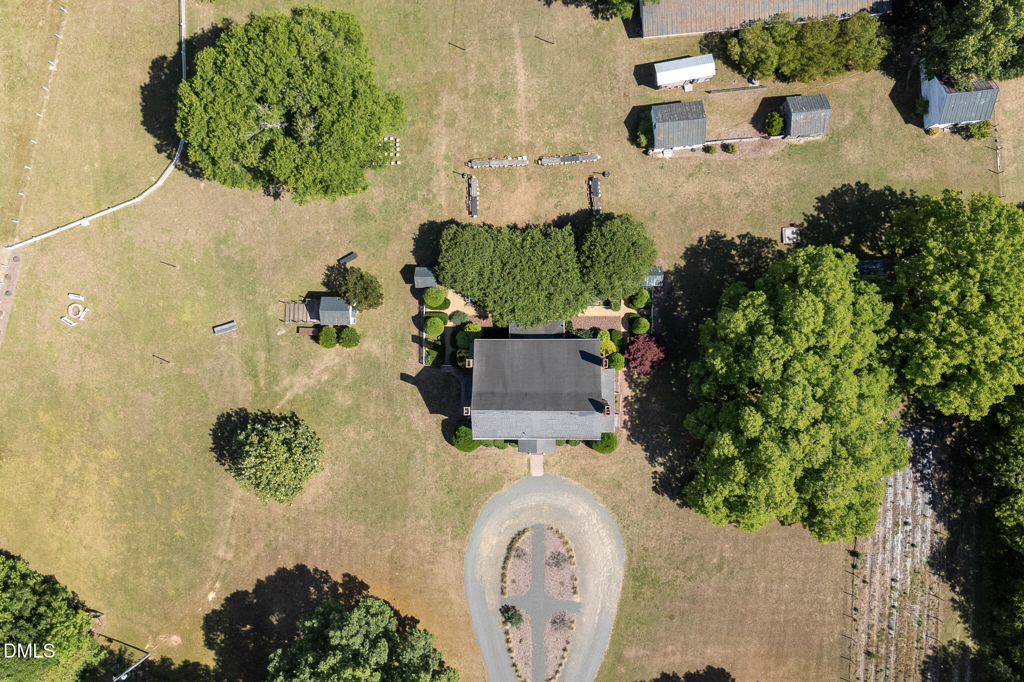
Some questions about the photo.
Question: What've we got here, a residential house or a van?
residential house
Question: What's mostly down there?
grass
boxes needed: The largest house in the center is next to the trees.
[464,321,616,458]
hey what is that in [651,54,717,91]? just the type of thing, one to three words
shed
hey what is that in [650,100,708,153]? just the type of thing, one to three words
shed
